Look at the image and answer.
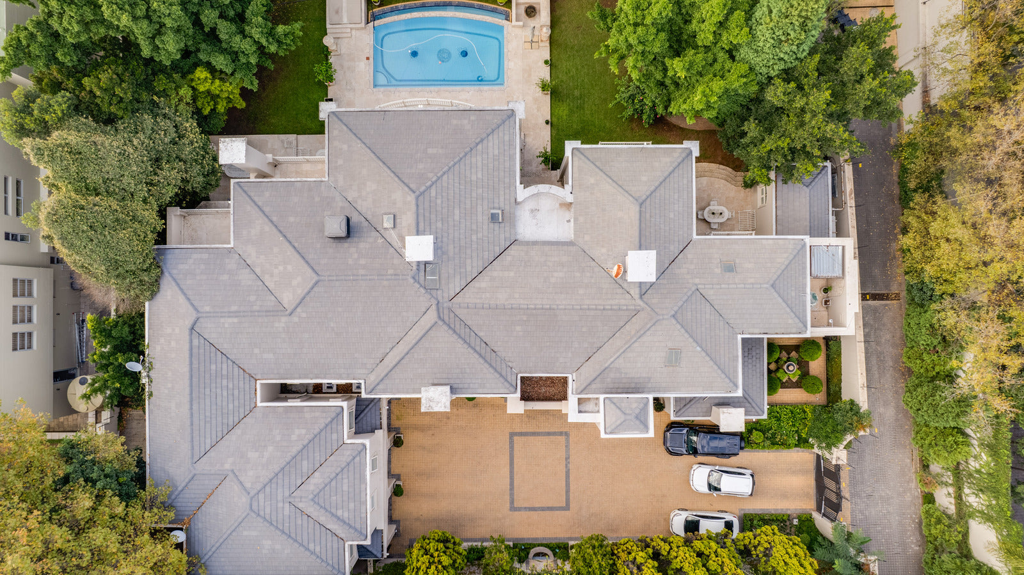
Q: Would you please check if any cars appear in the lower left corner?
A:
No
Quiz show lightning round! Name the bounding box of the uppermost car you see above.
[668,425,745,460]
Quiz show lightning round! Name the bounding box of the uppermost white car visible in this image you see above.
[689,464,755,498]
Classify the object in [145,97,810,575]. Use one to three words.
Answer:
house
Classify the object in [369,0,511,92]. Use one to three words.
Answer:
swimming pool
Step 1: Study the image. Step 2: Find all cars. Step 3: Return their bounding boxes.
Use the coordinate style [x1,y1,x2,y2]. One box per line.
[668,425,745,460]
[670,507,738,537]
[689,464,755,498]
